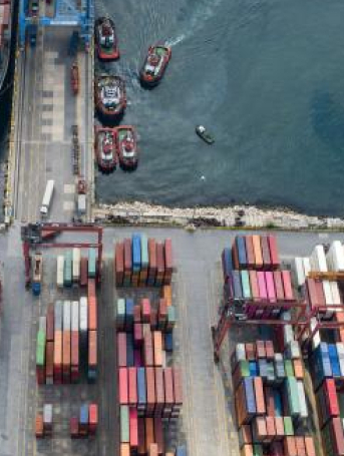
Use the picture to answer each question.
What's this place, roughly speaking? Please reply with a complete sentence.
What you see here is a port.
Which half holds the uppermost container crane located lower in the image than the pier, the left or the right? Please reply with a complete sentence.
The uppermost container crane located lower in the image than the pier appears in the left half of the scene.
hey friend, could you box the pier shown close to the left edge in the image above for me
[1,0,99,221]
